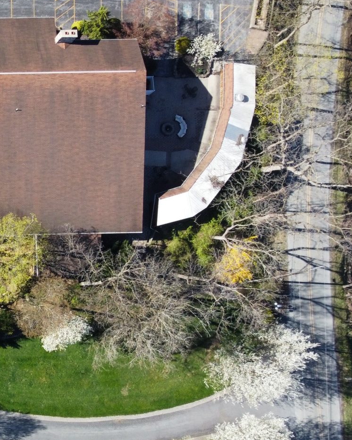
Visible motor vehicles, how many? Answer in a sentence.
The count of motor vehicles is 0.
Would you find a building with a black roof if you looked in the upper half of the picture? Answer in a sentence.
No, no building with a black roof appears in the upper half of the picture.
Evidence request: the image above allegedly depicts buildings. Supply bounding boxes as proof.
[0,17,157,281]
[146,64,256,228]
